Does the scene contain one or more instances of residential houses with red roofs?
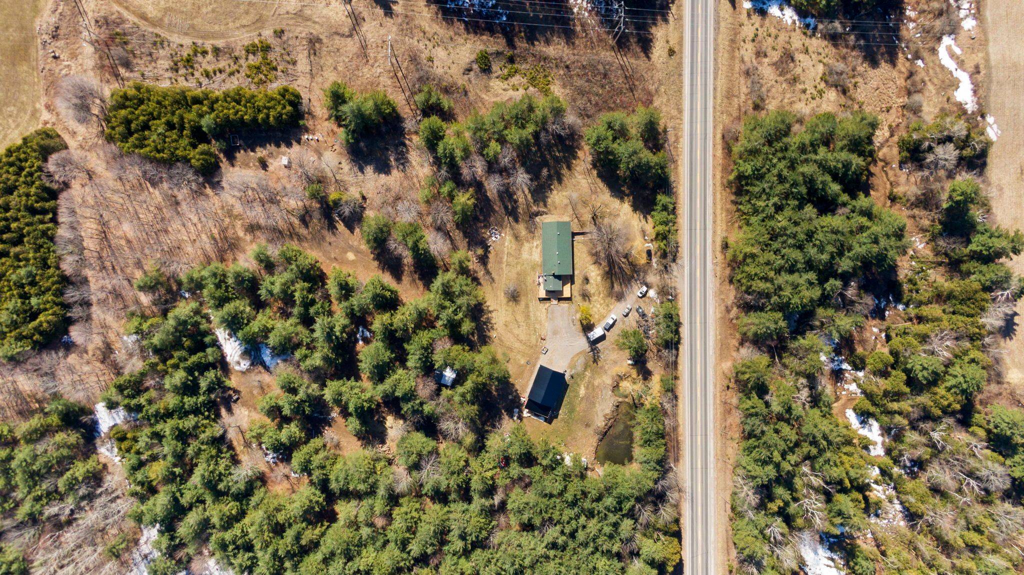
No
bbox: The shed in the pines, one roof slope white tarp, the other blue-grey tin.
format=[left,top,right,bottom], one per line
[435,365,457,387]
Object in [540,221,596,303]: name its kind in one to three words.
house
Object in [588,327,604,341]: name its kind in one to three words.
camper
